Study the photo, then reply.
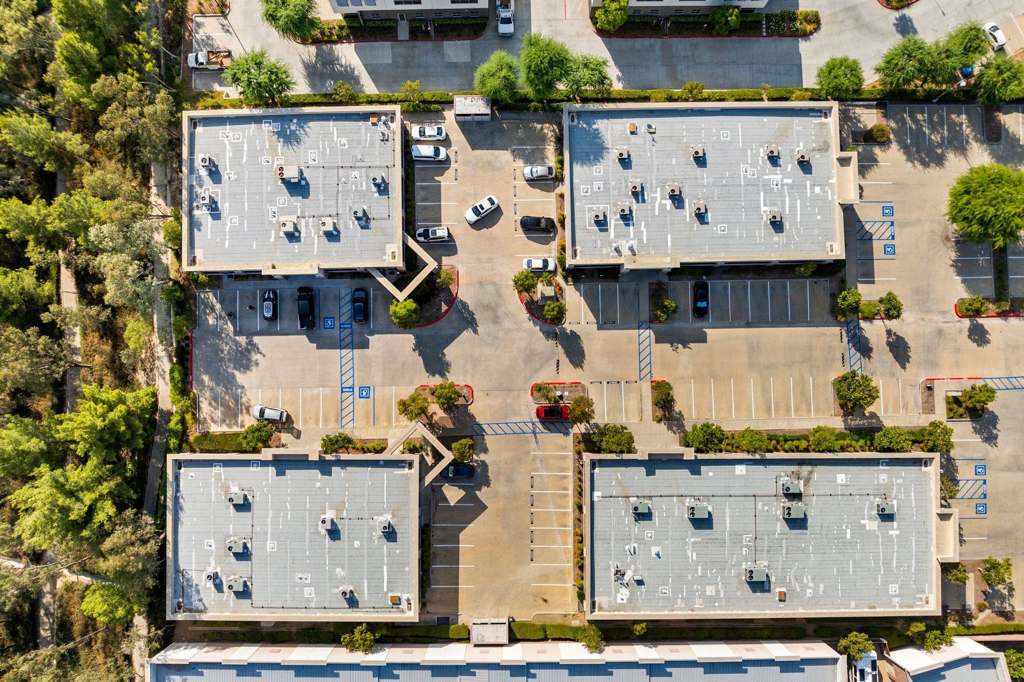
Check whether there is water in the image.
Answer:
No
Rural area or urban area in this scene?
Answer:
urban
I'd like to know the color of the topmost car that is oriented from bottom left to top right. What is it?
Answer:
white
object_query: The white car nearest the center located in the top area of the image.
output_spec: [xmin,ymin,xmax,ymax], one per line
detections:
[523,257,557,272]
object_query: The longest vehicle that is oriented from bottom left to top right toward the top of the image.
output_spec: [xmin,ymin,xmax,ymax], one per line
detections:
[465,196,498,223]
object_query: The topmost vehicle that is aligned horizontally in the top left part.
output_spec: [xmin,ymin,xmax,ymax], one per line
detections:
[187,47,232,68]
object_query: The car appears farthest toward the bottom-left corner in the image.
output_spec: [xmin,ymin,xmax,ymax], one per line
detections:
[253,404,287,422]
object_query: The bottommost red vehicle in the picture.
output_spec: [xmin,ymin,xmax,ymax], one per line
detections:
[537,404,568,421]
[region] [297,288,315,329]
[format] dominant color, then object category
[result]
black vehicle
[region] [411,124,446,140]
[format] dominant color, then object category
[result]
white car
